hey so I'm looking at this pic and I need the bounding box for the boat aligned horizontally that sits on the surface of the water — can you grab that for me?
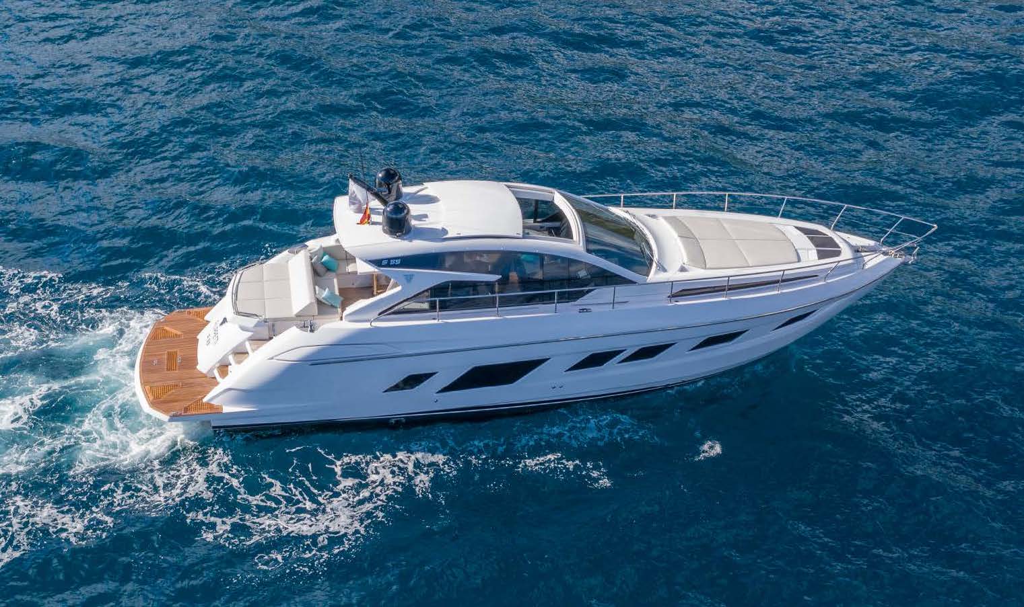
[135,118,940,428]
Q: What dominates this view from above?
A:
water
